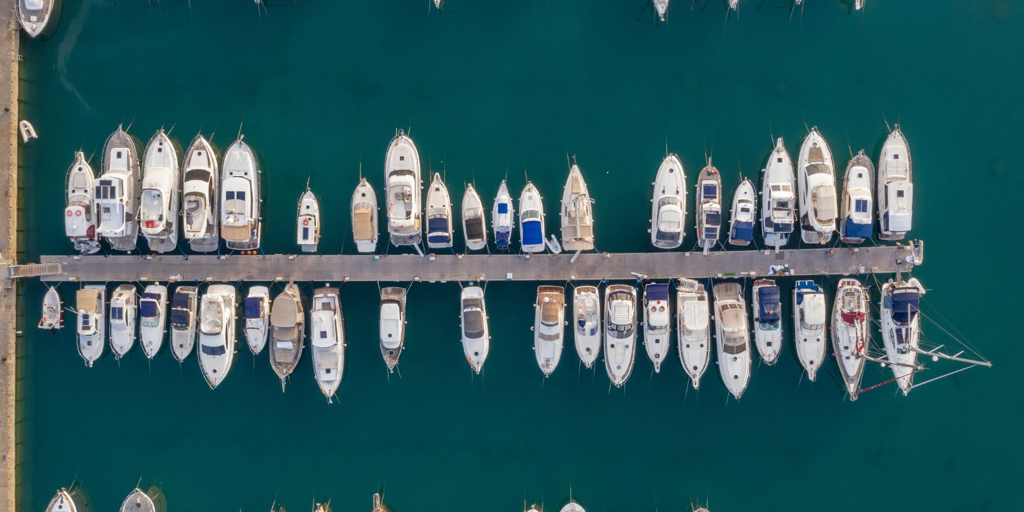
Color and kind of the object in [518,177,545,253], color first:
white boat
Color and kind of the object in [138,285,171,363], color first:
white boat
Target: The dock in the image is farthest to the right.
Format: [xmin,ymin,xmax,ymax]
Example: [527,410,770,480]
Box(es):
[40,243,912,284]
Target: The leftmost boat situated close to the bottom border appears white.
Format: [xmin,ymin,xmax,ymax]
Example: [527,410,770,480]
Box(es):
[46,486,80,512]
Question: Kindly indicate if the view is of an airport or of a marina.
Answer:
marina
